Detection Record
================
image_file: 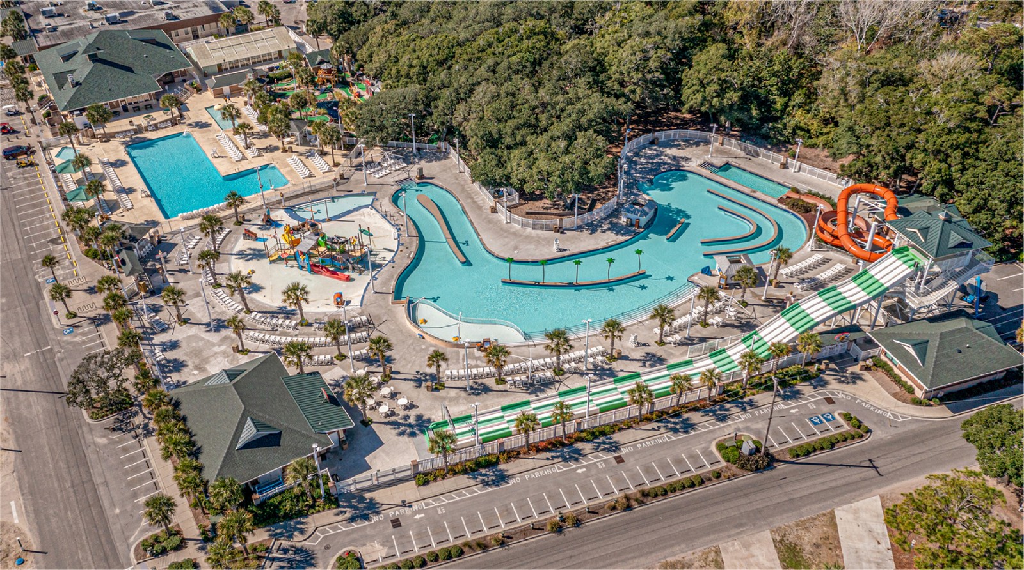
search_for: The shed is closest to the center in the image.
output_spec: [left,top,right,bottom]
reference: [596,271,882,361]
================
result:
[623,196,657,228]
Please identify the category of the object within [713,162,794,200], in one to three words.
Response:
swimming pool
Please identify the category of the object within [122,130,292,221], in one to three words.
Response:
swimming pool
